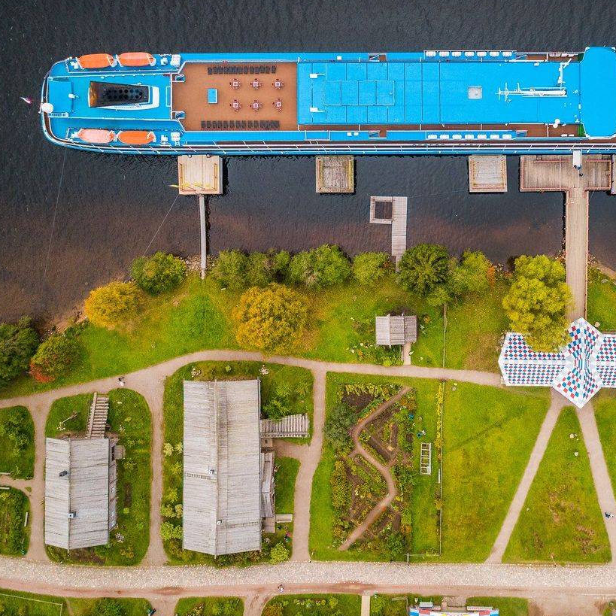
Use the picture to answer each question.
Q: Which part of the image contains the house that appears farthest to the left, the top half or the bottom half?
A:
bottom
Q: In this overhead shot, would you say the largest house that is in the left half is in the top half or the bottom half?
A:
bottom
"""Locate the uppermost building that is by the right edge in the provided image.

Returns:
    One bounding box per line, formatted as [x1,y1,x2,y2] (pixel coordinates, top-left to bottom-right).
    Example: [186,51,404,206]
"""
[498,317,616,410]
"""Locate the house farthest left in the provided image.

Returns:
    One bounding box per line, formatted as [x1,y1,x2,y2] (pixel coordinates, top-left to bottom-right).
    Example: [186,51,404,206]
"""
[44,393,128,554]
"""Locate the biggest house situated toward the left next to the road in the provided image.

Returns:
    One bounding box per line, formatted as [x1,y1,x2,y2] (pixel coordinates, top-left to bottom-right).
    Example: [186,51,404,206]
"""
[183,377,310,560]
